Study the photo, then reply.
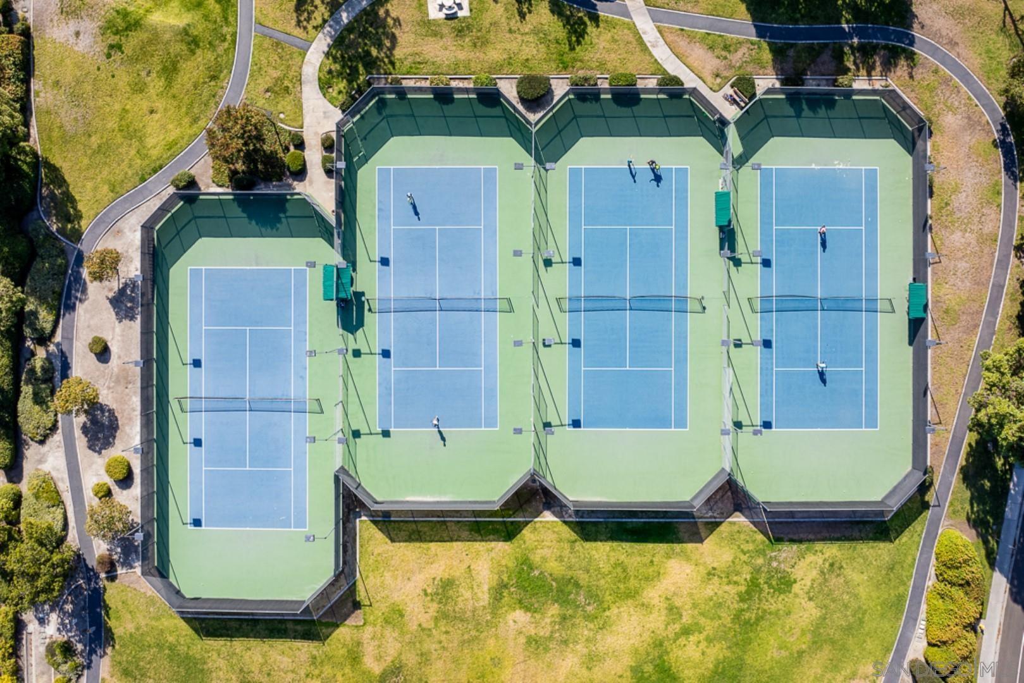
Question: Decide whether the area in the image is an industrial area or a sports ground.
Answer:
sports ground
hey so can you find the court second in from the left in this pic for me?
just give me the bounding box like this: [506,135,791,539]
[342,97,533,503]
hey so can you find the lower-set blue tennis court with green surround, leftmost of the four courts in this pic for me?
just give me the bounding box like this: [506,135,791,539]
[154,198,342,602]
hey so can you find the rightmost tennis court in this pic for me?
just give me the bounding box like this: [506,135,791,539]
[723,97,912,505]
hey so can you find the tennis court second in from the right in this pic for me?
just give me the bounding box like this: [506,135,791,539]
[533,97,723,503]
